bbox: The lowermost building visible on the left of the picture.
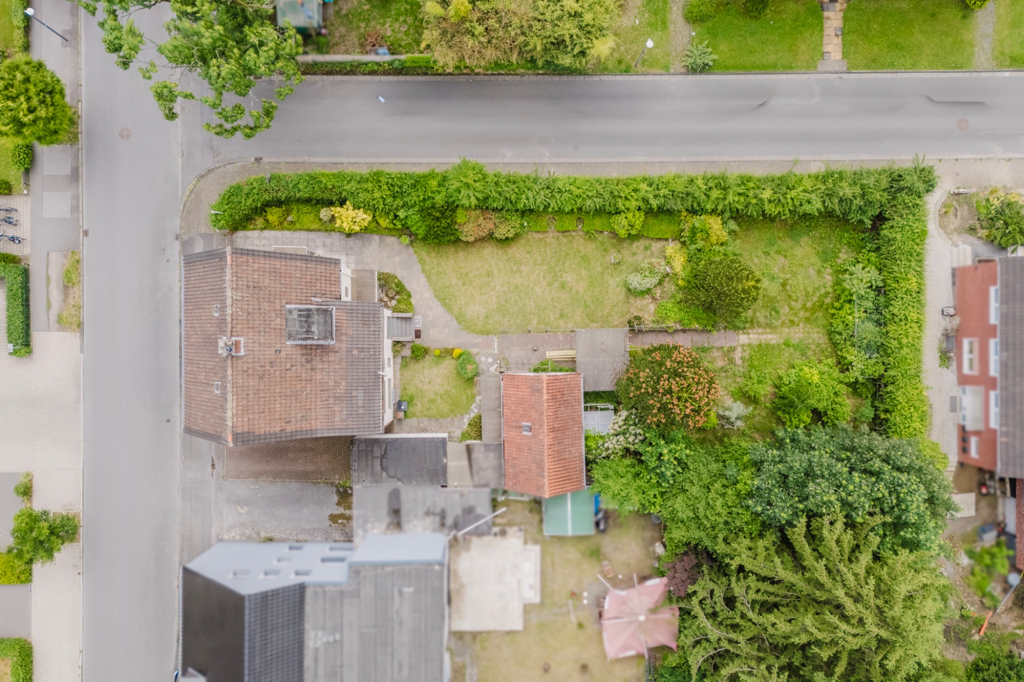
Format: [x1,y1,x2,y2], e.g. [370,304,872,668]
[173,535,456,682]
